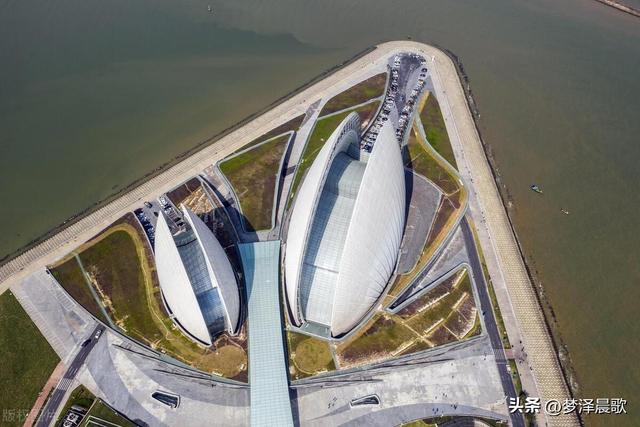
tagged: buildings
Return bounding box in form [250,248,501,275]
[149,204,247,351]
[281,112,408,341]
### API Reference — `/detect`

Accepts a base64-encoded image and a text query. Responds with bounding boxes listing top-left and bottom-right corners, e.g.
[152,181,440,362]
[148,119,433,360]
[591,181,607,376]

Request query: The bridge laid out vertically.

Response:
[239,241,294,427]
